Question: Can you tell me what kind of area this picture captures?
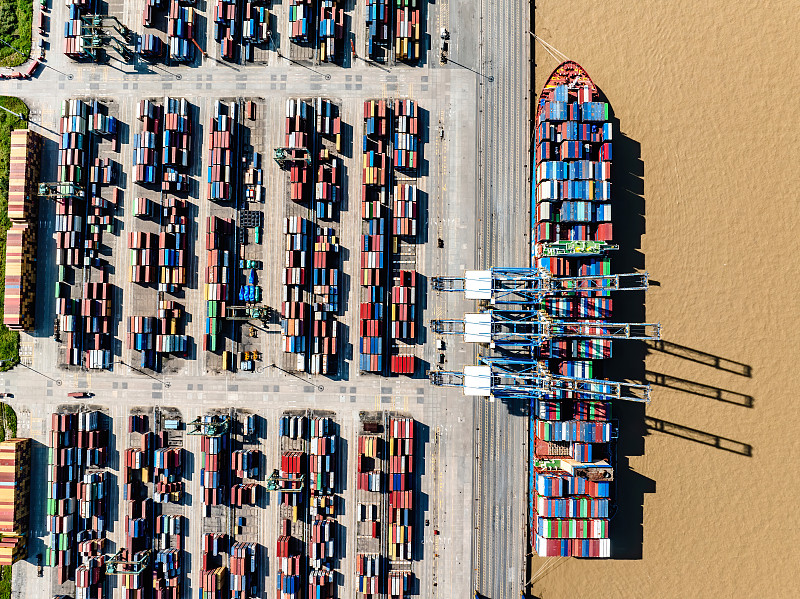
port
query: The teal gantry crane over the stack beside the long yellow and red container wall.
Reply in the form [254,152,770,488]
[37,183,89,205]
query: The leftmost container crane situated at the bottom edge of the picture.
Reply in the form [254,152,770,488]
[102,545,152,575]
